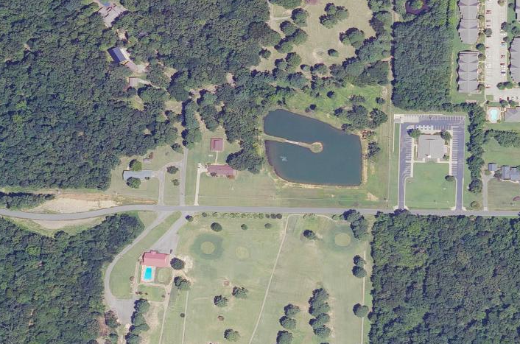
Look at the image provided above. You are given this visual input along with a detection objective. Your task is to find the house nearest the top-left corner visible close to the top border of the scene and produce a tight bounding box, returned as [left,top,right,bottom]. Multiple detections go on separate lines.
[99,2,127,29]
